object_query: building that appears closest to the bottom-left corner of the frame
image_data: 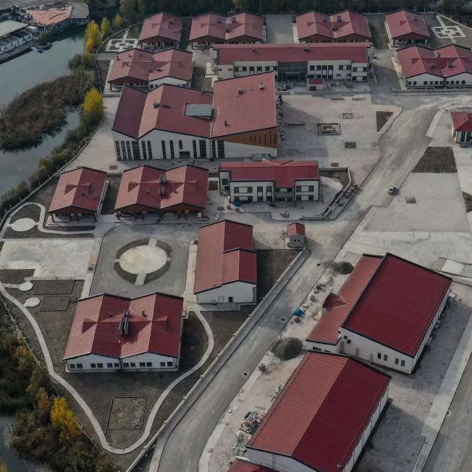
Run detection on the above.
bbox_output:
[63,291,184,371]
